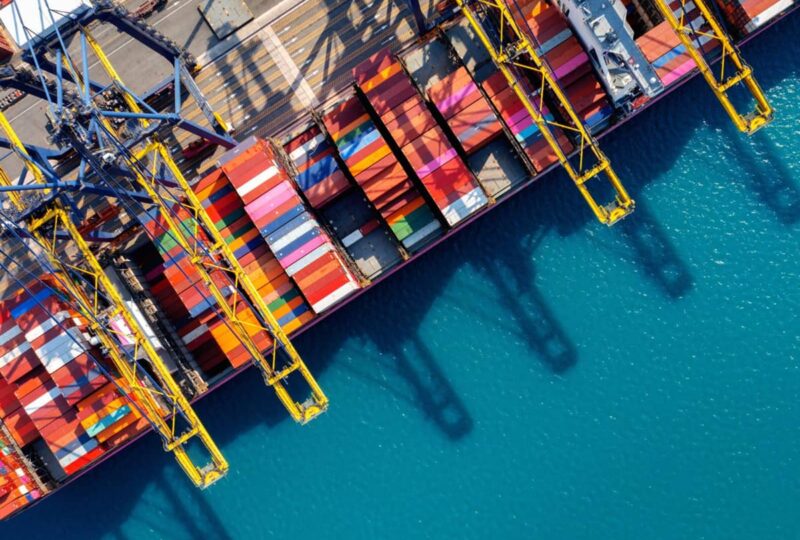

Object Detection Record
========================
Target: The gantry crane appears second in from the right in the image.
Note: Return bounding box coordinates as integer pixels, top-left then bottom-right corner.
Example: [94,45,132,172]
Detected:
[389,0,639,225]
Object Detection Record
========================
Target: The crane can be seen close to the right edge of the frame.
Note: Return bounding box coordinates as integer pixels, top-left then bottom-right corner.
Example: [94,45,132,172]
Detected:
[660,0,780,134]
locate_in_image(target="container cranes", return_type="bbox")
[0,77,230,492]
[660,0,780,134]
[389,0,639,225]
[0,0,329,427]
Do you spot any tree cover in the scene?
No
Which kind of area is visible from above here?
port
